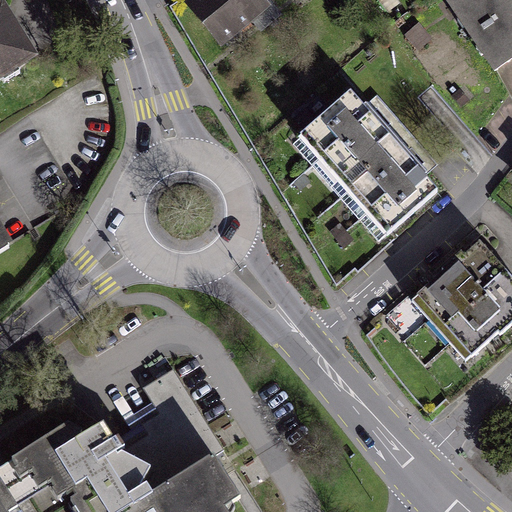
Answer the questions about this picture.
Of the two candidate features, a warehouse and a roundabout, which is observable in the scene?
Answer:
roundabout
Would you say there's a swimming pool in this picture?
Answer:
No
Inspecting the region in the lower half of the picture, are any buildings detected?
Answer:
Yes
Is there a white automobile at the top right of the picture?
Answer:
No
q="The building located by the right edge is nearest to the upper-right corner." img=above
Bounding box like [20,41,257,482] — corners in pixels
[444,0,512,70]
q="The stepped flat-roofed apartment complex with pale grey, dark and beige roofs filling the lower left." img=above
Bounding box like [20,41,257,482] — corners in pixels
[0,370,242,512]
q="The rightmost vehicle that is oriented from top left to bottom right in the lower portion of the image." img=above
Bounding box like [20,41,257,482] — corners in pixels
[358,425,376,448]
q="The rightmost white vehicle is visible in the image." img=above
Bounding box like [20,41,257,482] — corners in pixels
[369,299,388,316]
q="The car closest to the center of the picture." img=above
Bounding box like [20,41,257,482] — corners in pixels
[222,220,240,241]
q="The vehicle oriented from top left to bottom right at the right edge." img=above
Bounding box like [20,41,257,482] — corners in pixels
[479,128,500,148]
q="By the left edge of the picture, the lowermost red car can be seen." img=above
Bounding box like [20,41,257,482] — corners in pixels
[6,220,24,236]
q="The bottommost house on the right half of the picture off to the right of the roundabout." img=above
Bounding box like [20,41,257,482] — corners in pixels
[385,240,512,361]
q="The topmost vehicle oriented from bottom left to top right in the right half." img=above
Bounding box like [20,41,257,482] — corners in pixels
[432,194,452,212]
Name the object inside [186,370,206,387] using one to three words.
car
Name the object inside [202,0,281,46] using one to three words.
house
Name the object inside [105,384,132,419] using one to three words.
truck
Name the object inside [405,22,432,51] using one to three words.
shed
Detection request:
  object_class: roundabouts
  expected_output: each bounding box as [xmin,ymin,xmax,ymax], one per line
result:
[110,137,261,287]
